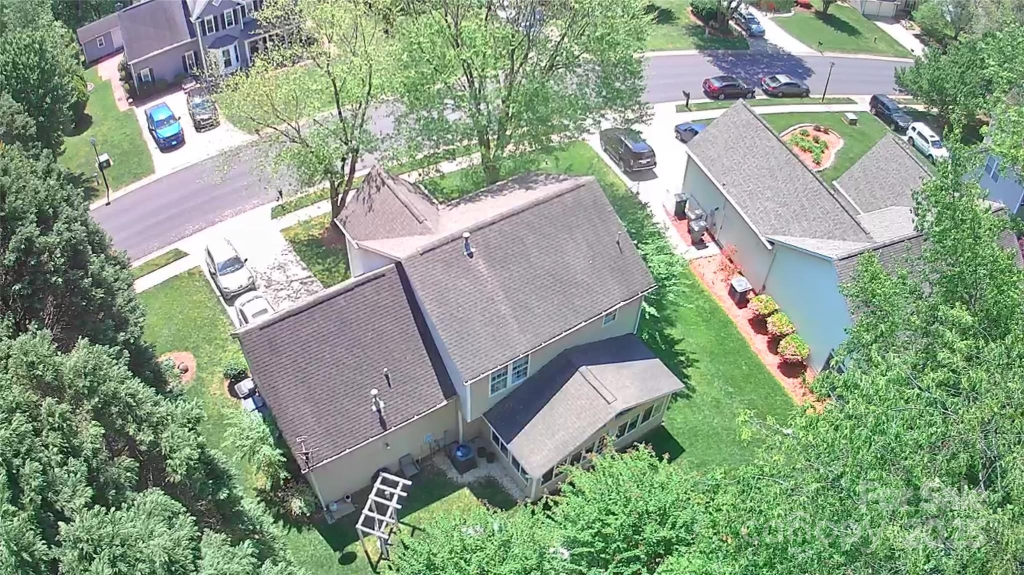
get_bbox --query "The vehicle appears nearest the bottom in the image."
[237,291,273,324]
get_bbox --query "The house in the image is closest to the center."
[228,167,683,513]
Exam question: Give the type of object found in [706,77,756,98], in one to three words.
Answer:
car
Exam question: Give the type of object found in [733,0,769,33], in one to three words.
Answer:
car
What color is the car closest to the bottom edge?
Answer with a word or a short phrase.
white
